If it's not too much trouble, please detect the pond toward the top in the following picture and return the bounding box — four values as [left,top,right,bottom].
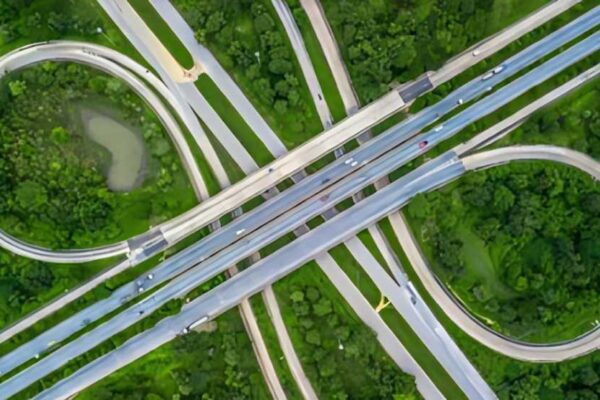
[88,117,142,190]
